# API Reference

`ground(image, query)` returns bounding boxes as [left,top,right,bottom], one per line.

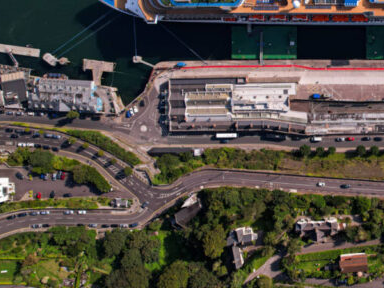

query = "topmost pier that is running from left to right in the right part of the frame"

[232,28,298,59]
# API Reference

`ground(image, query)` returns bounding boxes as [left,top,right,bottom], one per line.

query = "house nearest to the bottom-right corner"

[340,253,368,271]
